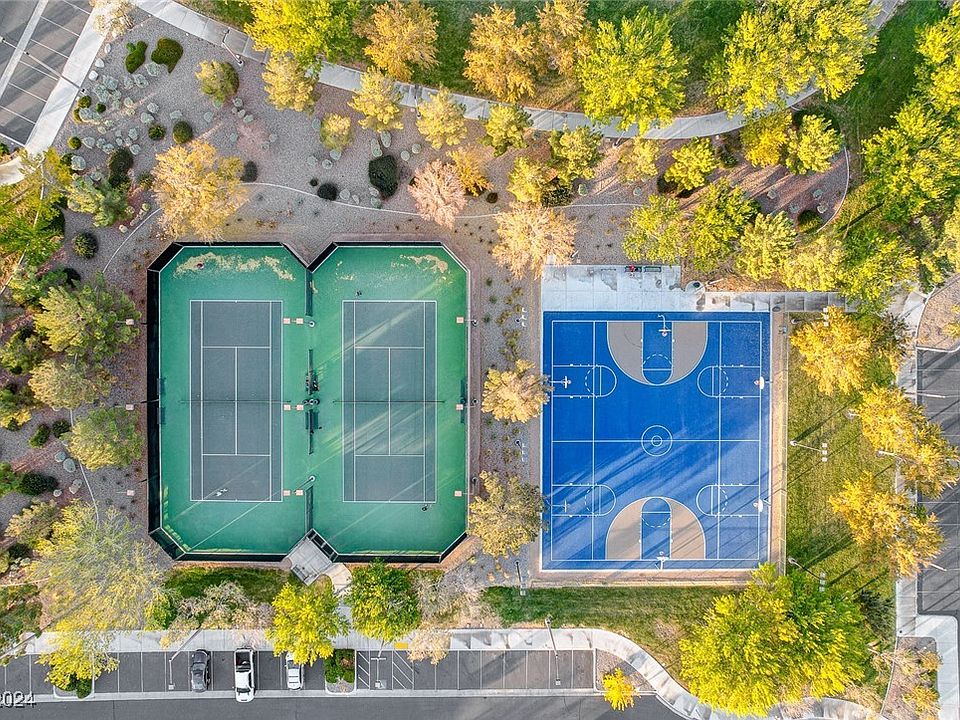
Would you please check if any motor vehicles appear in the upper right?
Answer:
No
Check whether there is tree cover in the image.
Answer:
Yes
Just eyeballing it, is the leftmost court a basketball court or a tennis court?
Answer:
tennis court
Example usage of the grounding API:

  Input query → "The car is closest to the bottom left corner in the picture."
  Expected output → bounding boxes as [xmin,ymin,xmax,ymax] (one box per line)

[190,650,211,691]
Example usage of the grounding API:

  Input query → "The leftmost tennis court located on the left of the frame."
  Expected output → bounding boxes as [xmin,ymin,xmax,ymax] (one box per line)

[161,247,308,553]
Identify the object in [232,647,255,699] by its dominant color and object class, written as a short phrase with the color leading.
white truck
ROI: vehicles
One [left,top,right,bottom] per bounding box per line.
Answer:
[232,647,255,699]
[285,646,303,687]
[190,650,211,691]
